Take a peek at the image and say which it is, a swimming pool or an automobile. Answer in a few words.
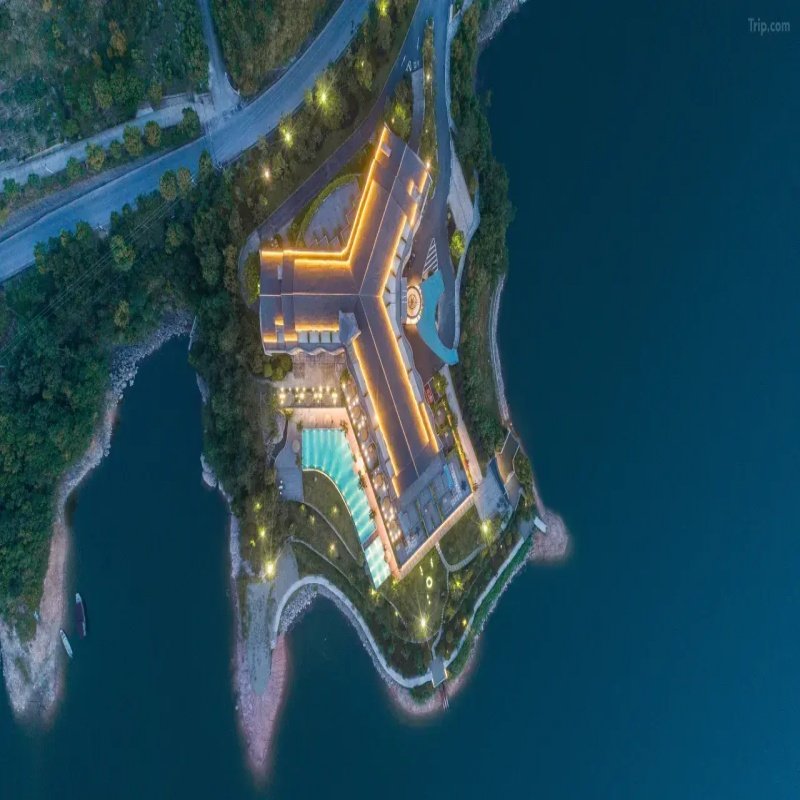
swimming pool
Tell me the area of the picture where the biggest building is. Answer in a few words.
center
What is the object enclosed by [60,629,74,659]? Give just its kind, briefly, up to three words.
boat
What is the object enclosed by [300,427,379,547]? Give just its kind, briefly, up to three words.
swimming pool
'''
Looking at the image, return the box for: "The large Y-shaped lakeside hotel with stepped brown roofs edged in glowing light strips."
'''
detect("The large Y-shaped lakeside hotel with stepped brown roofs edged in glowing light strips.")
[258,127,475,571]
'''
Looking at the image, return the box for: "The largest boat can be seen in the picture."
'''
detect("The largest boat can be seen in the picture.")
[74,592,87,641]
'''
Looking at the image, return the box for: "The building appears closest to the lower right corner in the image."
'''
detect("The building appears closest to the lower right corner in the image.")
[431,657,447,688]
